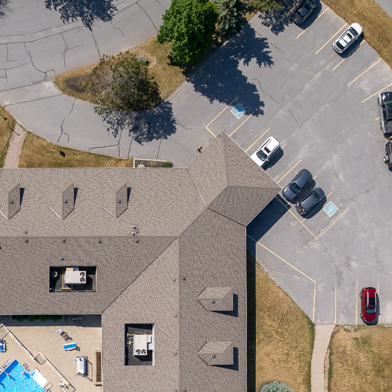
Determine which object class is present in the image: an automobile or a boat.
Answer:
automobile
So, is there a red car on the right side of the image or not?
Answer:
Yes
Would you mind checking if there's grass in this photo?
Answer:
Yes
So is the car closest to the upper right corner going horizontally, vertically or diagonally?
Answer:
diagonally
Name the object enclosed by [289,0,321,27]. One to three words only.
car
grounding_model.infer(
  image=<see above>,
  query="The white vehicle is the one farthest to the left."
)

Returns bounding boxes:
[250,137,280,167]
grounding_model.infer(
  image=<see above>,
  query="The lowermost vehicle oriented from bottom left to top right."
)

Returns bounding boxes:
[296,187,326,218]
